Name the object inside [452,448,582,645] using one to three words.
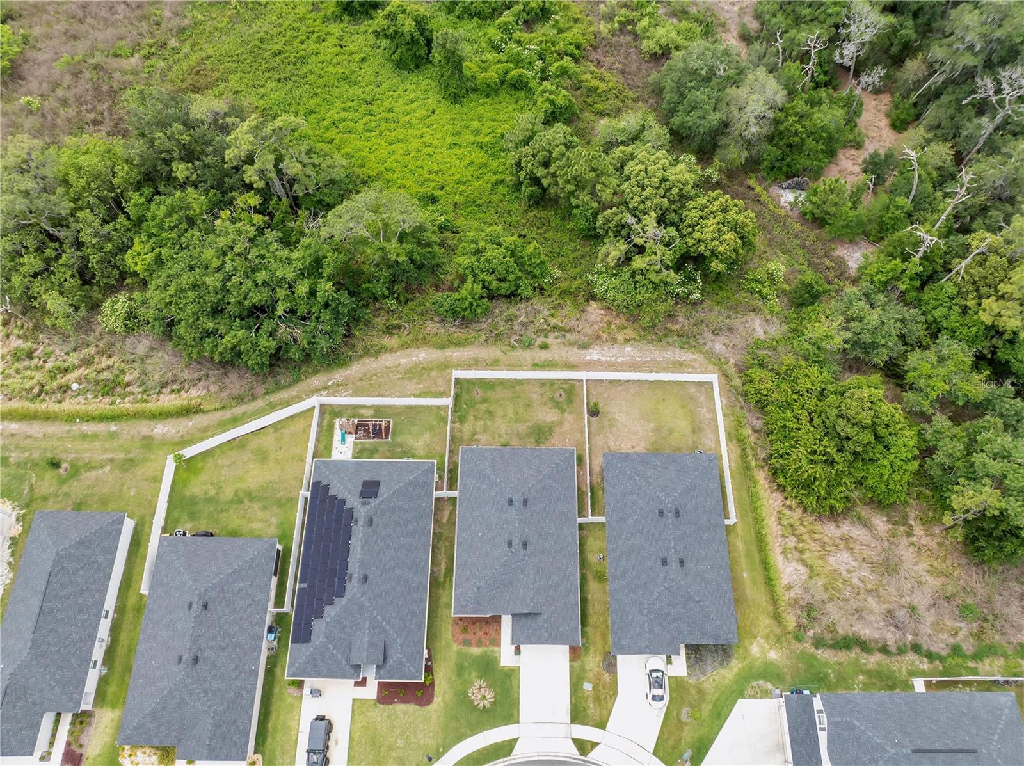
house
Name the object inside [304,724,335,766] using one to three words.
car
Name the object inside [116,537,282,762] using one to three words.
house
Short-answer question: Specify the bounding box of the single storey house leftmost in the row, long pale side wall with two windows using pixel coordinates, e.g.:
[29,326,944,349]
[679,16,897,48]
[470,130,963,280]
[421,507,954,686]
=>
[0,511,135,757]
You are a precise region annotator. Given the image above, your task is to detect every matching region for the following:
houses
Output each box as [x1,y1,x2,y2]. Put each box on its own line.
[452,448,582,645]
[0,511,135,757]
[601,452,739,656]
[775,692,1024,766]
[284,460,436,679]
[116,537,282,762]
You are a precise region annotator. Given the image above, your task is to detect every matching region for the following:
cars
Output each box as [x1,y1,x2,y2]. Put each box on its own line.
[645,655,669,709]
[304,724,335,766]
